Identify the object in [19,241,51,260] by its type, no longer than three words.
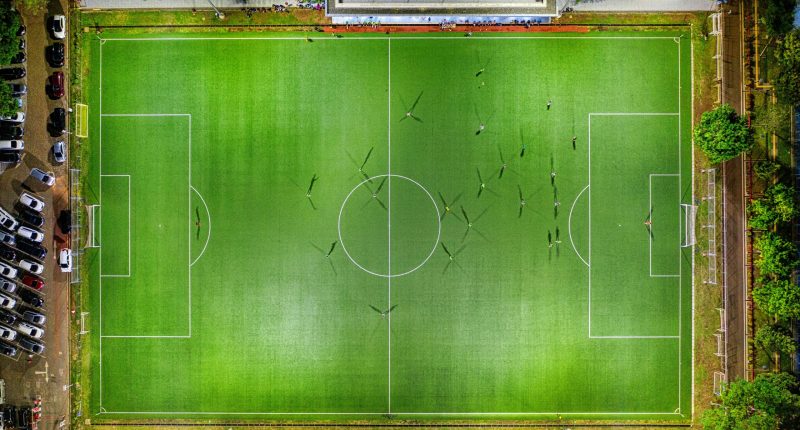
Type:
vehicle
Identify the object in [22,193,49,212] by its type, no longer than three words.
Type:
car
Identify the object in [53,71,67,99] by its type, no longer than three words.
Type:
car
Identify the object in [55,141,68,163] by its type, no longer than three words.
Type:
vehicle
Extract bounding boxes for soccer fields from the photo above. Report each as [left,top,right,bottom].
[90,30,693,419]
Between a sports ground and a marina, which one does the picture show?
sports ground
